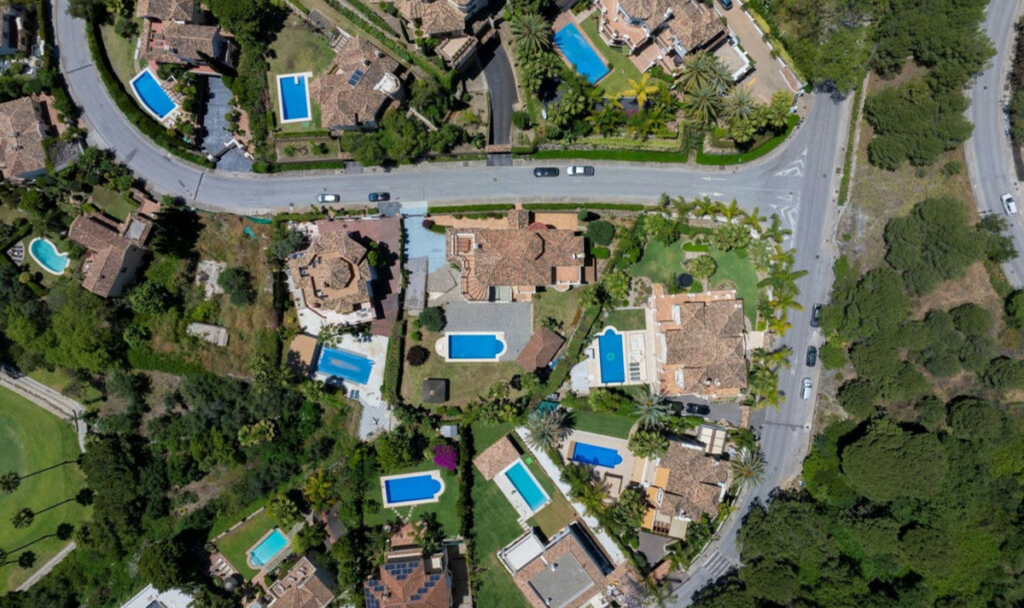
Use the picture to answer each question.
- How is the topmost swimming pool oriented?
at an angle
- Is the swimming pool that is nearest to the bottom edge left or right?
left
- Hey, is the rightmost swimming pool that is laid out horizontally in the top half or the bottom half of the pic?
bottom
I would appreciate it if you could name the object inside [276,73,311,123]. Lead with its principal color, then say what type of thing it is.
blue swimming pool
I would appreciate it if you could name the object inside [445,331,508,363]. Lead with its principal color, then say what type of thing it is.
blue swimming pool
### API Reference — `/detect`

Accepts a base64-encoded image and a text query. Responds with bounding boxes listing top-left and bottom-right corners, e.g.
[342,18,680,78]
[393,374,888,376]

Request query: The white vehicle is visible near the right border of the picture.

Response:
[999,192,1016,216]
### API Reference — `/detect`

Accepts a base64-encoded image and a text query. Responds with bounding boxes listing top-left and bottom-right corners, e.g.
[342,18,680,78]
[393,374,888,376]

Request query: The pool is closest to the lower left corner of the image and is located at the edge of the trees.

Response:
[248,527,289,569]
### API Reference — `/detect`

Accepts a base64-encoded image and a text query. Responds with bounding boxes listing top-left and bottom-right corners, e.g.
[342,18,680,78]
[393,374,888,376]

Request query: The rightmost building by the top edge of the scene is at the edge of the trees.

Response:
[592,0,753,83]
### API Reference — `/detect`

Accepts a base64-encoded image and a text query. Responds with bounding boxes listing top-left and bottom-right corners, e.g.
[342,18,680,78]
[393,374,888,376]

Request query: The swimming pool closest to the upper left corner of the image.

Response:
[128,66,180,121]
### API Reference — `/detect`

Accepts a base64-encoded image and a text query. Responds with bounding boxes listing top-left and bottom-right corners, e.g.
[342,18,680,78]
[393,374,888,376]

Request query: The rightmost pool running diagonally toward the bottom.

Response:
[503,460,549,514]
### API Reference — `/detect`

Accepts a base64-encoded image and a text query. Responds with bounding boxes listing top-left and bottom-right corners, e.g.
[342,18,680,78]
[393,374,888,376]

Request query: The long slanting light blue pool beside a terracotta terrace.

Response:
[553,21,611,86]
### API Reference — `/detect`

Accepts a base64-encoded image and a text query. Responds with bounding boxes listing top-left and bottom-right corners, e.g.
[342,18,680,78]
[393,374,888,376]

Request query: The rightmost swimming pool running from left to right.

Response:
[571,441,624,470]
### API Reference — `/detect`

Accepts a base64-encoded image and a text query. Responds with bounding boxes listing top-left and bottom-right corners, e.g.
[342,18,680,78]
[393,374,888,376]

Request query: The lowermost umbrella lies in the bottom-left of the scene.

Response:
[221,580,236,594]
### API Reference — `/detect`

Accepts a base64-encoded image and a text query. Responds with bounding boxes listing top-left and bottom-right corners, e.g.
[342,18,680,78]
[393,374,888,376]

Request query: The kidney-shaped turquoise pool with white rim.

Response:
[29,237,69,275]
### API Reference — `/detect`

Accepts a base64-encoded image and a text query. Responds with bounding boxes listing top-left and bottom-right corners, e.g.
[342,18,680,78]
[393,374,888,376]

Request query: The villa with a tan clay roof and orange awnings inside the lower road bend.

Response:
[638,437,730,540]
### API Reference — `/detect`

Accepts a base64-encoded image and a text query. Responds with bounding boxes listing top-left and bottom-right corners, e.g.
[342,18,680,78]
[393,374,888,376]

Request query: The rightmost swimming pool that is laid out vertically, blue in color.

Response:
[596,326,627,386]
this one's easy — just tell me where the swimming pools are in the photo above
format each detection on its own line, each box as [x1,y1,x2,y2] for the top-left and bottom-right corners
[596,326,627,386]
[381,470,445,508]
[248,527,289,569]
[276,73,311,123]
[128,66,180,121]
[571,441,624,470]
[445,331,508,363]
[503,460,549,514]
[29,237,69,275]
[553,21,611,86]
[316,346,375,387]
